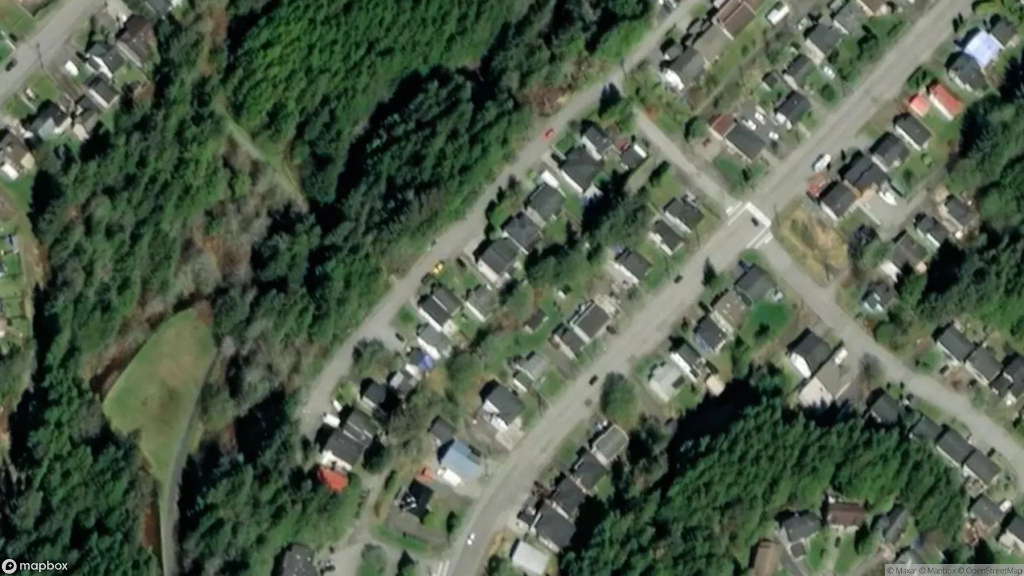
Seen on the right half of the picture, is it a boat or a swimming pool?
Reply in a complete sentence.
The one visible on the right half of the picture is a boat.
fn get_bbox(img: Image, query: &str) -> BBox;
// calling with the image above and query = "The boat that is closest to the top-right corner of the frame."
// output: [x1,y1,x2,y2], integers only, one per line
[879,189,898,206]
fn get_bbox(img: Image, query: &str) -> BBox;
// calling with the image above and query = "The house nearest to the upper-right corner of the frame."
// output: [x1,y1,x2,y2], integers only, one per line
[990,20,1019,52]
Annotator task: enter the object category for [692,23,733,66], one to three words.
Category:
building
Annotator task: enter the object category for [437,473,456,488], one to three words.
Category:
vehicle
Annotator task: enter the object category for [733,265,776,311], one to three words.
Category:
house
